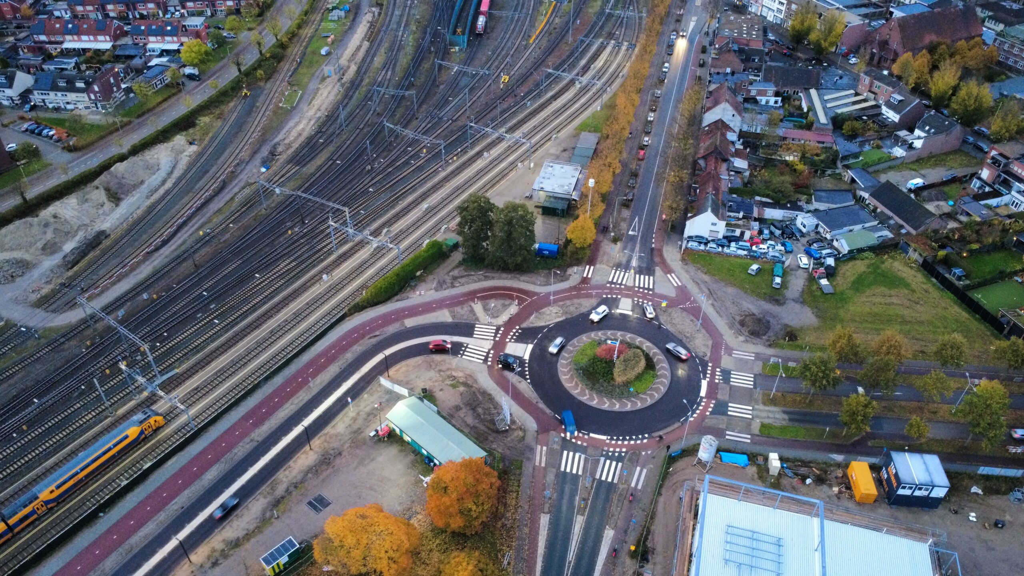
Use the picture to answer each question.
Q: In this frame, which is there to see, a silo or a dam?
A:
silo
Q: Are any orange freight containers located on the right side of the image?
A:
Yes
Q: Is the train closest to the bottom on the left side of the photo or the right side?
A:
left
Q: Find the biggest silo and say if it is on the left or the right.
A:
right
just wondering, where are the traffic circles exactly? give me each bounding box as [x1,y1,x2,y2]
[498,297,708,440]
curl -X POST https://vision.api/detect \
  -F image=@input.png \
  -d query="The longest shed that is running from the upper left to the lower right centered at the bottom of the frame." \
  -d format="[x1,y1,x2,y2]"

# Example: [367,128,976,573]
[384,395,490,480]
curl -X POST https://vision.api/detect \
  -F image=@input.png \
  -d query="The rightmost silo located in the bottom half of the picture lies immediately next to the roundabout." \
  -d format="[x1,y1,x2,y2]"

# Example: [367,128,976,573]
[694,429,723,472]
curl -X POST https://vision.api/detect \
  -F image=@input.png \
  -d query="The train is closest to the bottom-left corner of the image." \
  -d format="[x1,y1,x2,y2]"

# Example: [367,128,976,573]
[0,410,163,540]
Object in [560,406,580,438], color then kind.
blue vehicle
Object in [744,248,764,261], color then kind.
blue vehicle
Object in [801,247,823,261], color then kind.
blue car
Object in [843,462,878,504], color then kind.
orange shipping container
